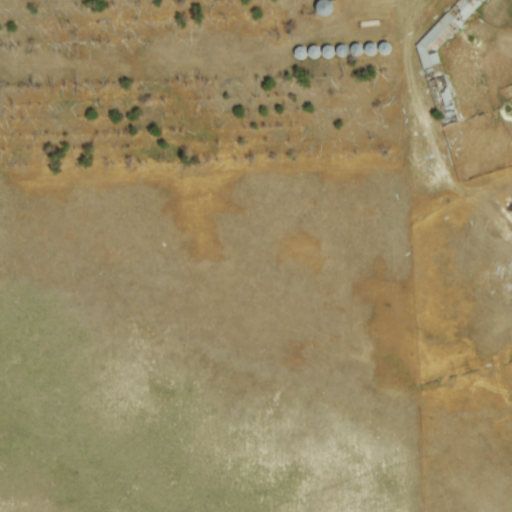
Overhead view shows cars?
No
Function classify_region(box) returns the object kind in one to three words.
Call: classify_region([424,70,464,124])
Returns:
building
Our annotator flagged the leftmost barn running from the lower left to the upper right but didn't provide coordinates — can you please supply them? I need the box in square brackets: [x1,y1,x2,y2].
[416,3,466,69]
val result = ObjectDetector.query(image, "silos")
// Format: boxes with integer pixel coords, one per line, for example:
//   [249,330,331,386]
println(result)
[350,42,364,57]
[294,46,308,60]
[322,45,335,60]
[308,46,322,60]
[378,42,392,56]
[364,42,378,56]
[336,44,349,58]
[316,0,334,18]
